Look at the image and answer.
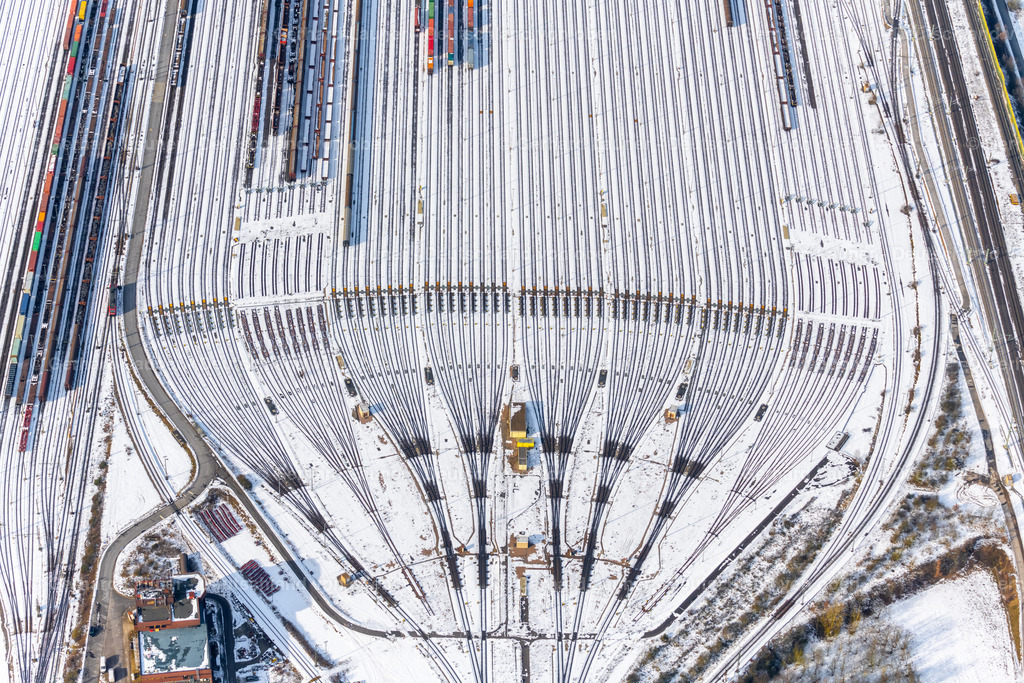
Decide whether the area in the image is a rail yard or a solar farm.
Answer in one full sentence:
The area seen from above is a rail yard.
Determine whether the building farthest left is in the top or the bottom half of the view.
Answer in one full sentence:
You can find the building farthest left in the bottom half.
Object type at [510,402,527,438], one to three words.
building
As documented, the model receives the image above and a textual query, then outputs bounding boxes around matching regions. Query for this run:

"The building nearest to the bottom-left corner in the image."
[136,554,215,683]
